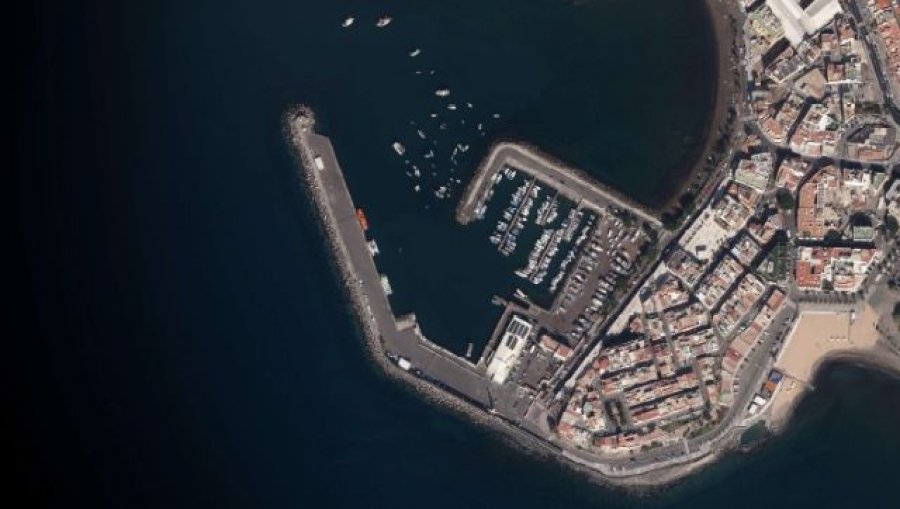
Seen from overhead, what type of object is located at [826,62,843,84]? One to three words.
house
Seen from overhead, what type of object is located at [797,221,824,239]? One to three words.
building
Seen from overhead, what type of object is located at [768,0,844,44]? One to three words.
building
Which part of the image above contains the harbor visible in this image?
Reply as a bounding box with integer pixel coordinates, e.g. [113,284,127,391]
[307,134,669,440]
